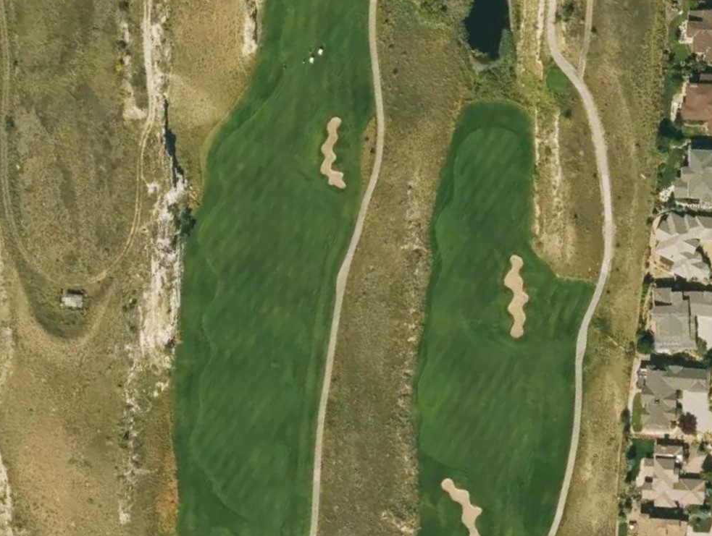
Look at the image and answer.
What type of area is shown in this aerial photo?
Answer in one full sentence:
What you see here is a golf course.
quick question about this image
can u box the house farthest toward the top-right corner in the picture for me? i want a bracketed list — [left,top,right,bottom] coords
[687,8,712,58]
